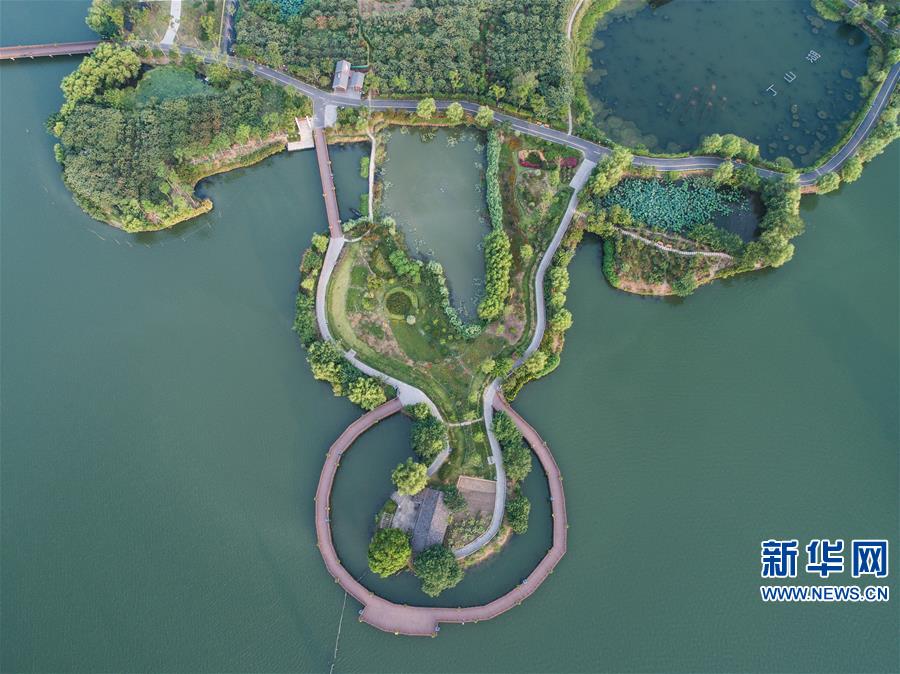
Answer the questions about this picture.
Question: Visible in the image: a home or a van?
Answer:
home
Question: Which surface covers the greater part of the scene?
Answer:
water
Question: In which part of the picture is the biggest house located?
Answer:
bottom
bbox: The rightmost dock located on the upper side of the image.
[288,114,315,152]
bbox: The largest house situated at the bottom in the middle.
[411,489,447,547]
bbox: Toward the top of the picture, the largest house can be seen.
[333,60,351,91]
